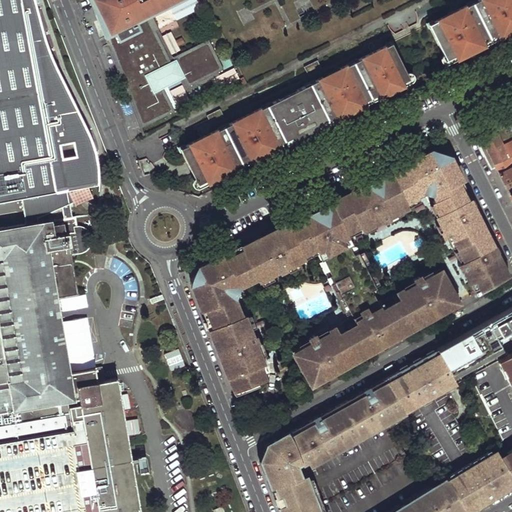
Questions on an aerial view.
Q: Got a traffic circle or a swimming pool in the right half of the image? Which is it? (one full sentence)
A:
The one visible in the right half of the image is a swimming pool.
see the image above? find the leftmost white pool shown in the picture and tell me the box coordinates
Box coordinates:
[286,283,332,318]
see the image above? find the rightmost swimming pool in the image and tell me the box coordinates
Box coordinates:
[376,228,418,267]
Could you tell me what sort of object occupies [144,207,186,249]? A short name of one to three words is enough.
roundabout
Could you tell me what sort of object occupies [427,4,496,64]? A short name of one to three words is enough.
building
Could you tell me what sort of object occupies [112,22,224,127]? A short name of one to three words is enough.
building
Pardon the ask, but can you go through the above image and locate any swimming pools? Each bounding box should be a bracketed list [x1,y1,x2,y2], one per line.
[286,283,332,318]
[376,228,418,267]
